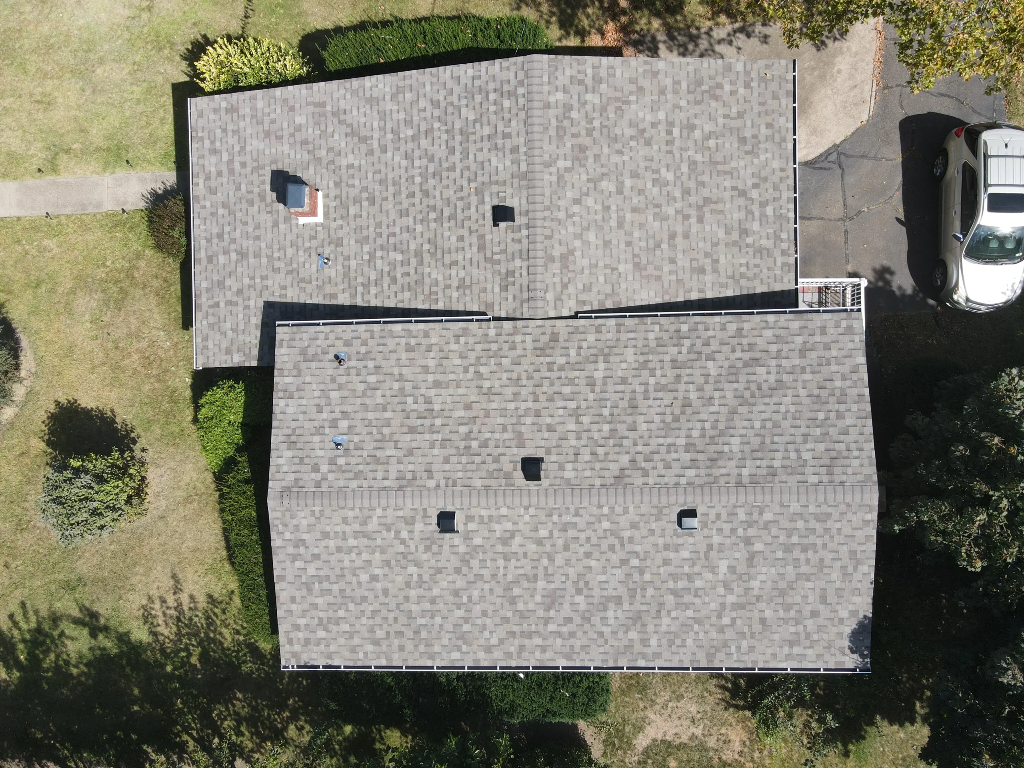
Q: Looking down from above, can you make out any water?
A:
No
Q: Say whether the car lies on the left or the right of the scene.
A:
right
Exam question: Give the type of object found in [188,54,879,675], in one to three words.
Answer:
house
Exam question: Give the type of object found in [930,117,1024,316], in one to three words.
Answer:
car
